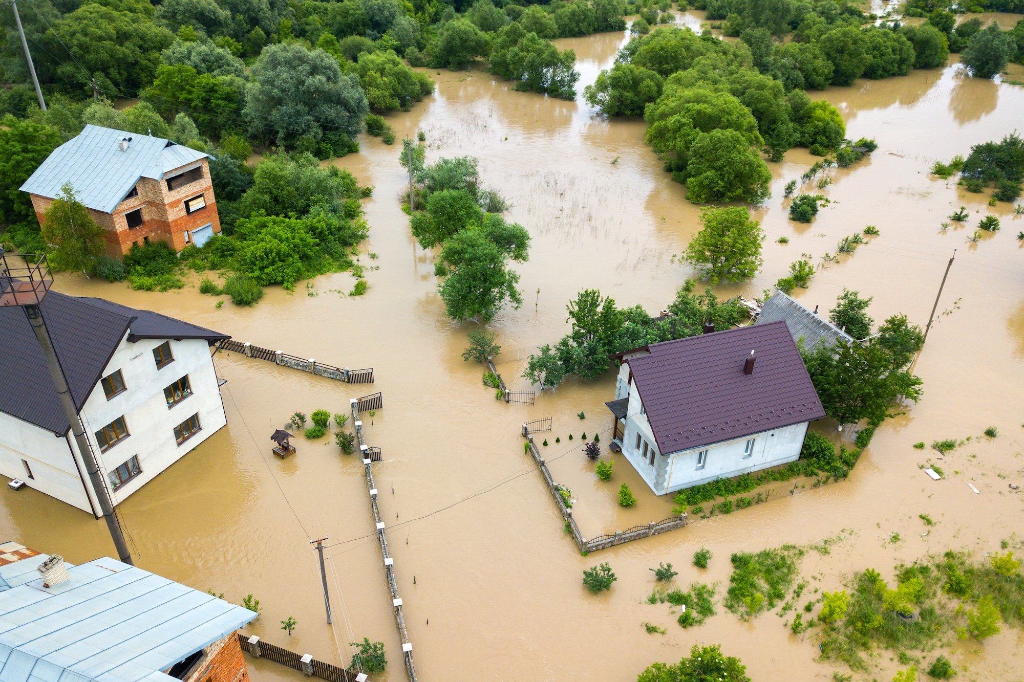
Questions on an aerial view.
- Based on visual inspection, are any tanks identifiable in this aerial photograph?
No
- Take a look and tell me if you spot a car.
No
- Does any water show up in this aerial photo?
Yes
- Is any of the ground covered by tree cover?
Yes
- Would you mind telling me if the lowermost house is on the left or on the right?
left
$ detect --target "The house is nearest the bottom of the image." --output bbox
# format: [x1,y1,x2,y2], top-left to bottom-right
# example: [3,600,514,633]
[0,537,260,682]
